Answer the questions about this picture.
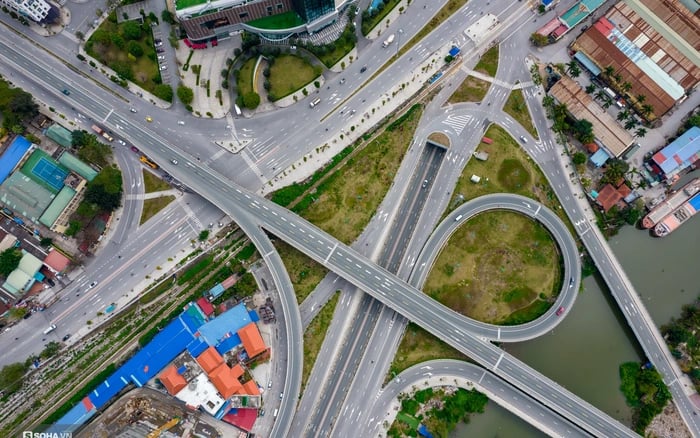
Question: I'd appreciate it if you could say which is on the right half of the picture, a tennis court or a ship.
ship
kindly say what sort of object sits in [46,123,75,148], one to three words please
shed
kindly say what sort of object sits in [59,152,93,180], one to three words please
shed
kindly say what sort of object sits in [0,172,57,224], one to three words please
building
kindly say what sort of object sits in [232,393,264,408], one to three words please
house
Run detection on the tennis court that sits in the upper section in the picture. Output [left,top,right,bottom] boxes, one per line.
[20,149,70,195]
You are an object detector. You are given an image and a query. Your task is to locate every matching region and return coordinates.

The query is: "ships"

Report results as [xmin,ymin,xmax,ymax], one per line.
[643,179,700,228]
[654,192,700,237]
